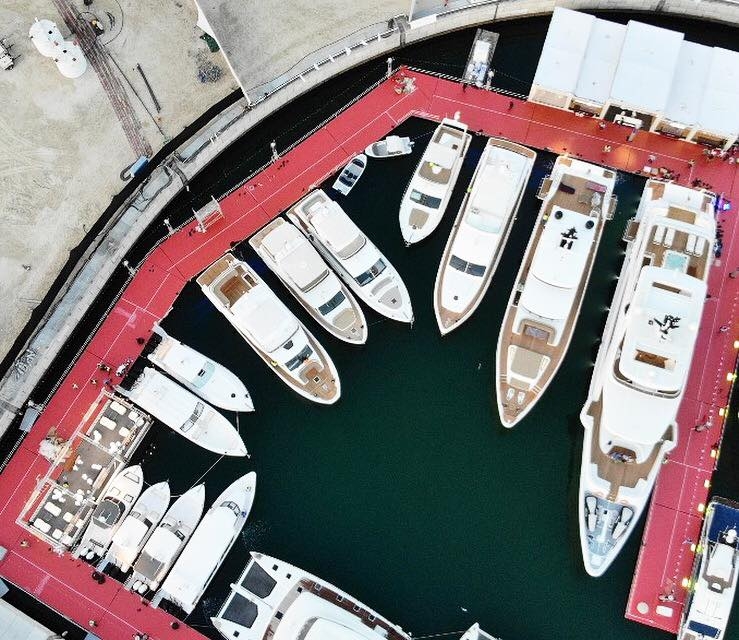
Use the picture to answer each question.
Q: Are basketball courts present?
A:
No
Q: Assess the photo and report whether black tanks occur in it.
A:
No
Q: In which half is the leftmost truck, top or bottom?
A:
top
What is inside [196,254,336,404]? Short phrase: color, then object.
white boat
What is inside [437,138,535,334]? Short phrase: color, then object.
white boat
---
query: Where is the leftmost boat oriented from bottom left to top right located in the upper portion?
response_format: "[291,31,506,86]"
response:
[333,154,367,198]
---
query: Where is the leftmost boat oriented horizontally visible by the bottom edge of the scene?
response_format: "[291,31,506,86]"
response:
[211,551,419,640]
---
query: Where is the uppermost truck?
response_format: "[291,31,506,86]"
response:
[0,37,32,74]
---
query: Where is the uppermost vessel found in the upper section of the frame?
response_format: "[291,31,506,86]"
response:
[461,33,499,86]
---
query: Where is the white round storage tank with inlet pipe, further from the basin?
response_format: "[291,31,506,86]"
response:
[33,25,70,61]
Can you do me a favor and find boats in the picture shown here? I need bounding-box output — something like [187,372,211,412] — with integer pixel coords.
[287,189,413,322]
[333,154,367,198]
[211,551,419,640]
[437,138,535,334]
[149,337,254,411]
[135,482,206,592]
[401,114,471,246]
[365,133,416,160]
[577,179,716,577]
[129,370,249,458]
[196,254,336,404]
[79,465,142,565]
[162,473,255,615]
[683,490,739,640]
[500,157,617,427]
[108,481,171,578]
[250,219,367,345]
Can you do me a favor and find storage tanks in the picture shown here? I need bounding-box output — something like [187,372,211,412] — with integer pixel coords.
[33,25,70,61]
[56,44,92,82]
